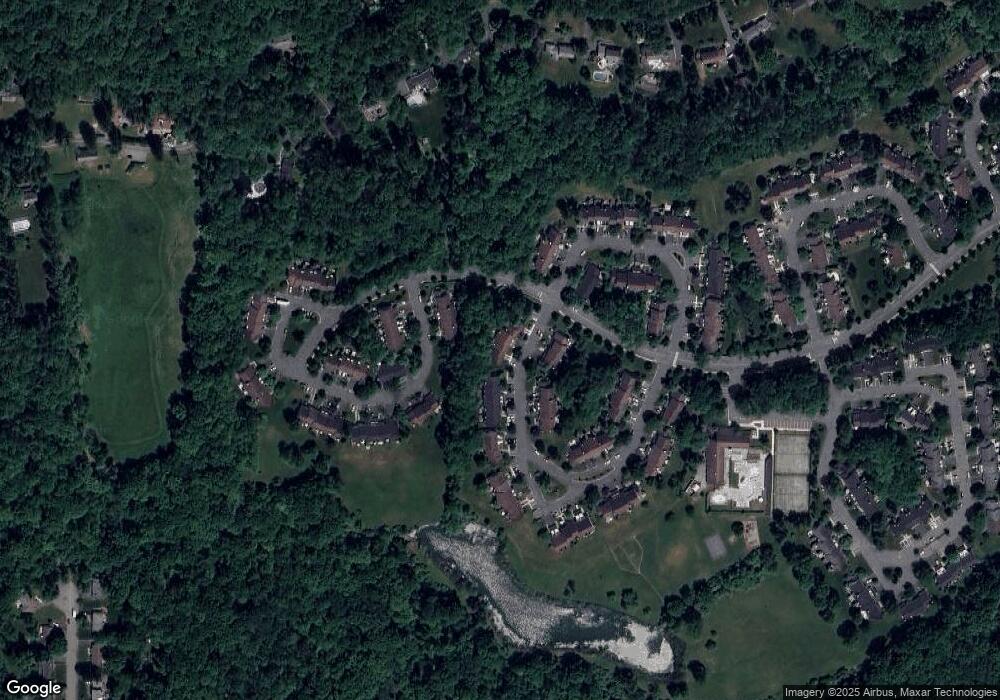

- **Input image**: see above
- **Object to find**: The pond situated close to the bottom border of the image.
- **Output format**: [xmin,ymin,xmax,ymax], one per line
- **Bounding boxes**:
[421,523,674,673]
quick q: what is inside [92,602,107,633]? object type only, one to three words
house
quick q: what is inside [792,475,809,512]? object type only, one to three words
tennis court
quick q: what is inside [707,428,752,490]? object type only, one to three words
building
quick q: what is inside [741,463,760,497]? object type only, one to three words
swimming pool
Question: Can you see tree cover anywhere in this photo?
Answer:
Yes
